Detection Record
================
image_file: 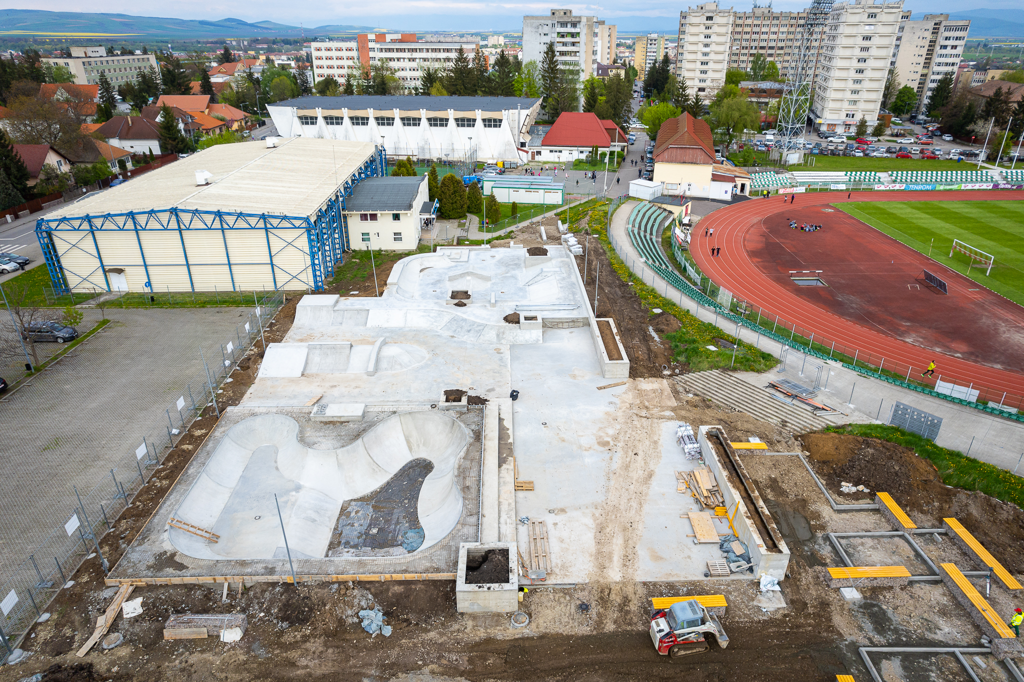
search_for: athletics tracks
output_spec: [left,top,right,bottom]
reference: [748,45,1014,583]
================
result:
[686,190,1024,416]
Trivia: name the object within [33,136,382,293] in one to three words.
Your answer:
building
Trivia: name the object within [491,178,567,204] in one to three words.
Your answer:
building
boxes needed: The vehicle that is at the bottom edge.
[656,608,737,665]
